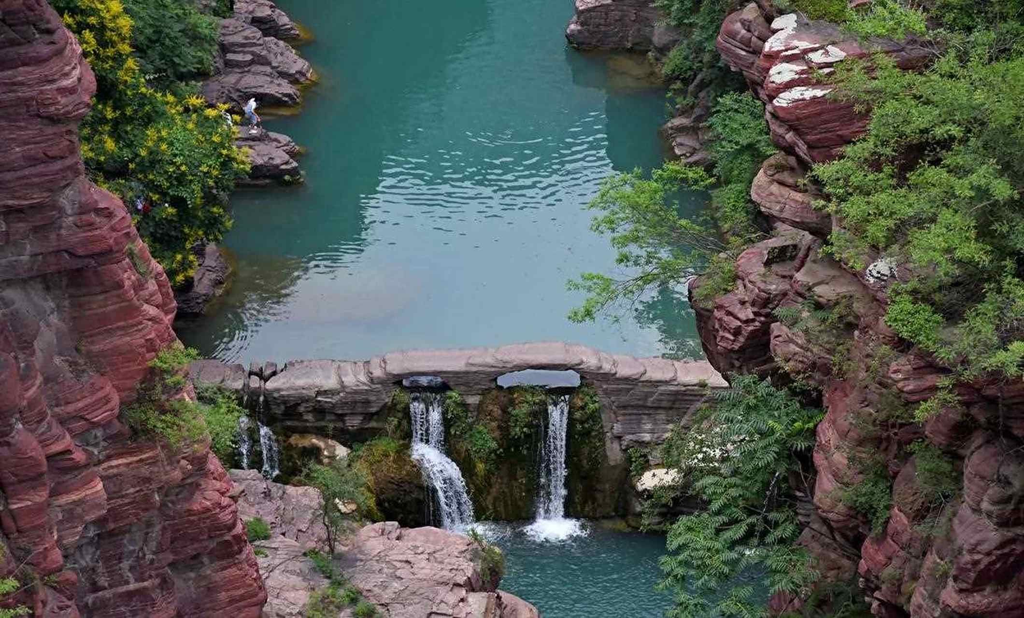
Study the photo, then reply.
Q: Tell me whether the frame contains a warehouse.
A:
No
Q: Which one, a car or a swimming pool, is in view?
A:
swimming pool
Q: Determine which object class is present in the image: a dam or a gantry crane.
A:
dam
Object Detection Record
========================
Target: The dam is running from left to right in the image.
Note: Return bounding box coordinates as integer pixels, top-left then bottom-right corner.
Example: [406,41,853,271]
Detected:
[187,335,792,462]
